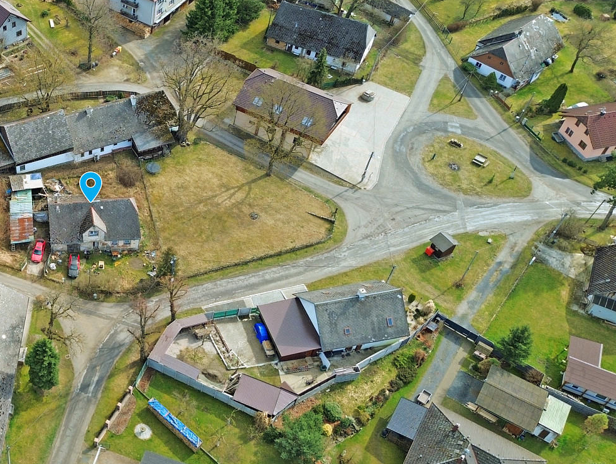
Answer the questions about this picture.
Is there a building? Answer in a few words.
Yes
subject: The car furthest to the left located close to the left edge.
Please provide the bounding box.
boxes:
[31,237,46,262]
